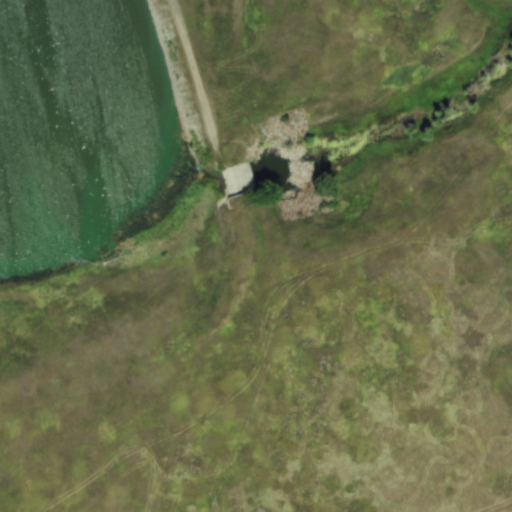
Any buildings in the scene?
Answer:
No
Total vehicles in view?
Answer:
0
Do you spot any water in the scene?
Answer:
Yes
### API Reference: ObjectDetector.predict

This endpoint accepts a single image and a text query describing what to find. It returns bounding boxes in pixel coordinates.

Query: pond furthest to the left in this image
[0,0,222,283]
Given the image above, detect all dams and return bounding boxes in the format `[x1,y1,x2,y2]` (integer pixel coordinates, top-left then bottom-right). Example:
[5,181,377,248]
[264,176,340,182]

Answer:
[148,0,227,154]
